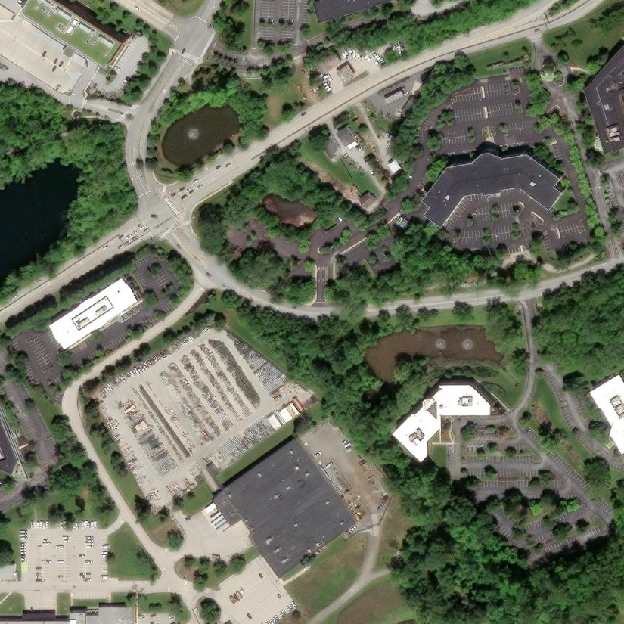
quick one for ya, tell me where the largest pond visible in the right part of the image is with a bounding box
[363,326,500,383]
